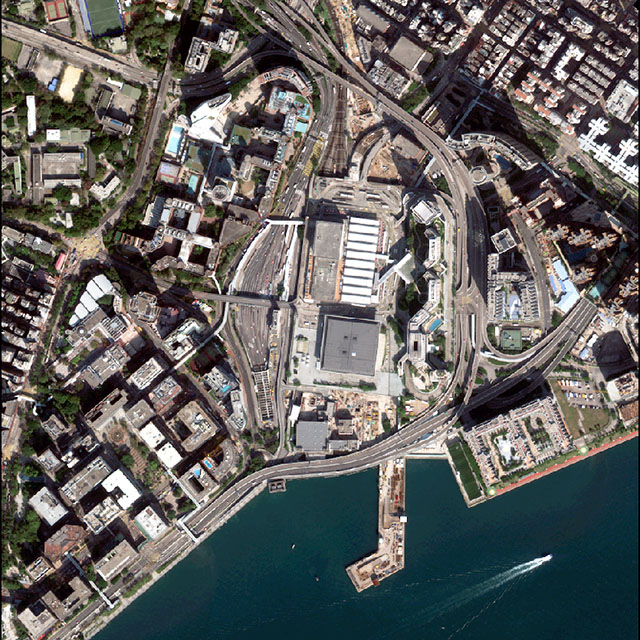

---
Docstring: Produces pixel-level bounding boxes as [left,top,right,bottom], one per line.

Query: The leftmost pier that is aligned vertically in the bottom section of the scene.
[345,454,406,591]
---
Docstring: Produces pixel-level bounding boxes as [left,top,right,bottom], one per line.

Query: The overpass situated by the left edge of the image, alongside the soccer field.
[0,22,161,88]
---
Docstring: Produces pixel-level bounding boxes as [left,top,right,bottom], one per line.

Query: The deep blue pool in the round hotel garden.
[494,153,511,169]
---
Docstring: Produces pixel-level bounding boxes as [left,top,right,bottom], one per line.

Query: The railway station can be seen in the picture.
[340,216,381,304]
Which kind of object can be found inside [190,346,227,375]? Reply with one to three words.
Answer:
building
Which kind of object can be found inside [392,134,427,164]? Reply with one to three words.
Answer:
building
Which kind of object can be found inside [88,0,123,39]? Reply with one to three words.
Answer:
soccer field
